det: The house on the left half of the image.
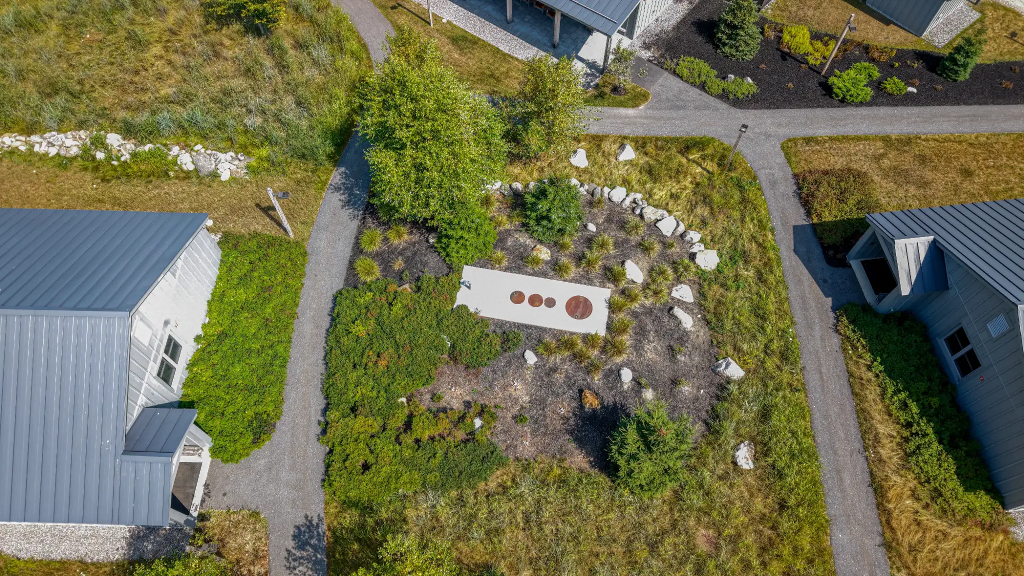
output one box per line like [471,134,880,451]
[0,209,219,530]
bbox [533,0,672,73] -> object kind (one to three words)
building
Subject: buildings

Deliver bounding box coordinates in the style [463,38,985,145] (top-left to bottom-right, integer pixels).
[0,209,219,530]
[533,0,672,73]
[852,197,1024,518]
[866,0,974,37]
